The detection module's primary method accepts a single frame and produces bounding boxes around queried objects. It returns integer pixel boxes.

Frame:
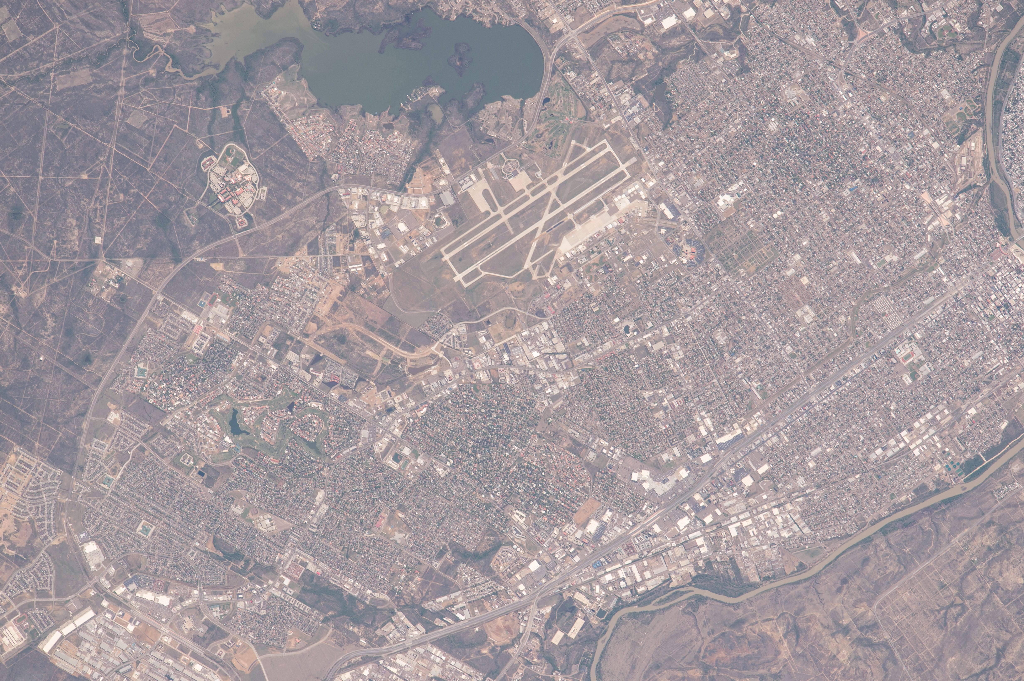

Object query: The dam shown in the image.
[513,15,549,102]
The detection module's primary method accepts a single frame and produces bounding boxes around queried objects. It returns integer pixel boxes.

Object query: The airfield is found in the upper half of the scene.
[440,135,648,287]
